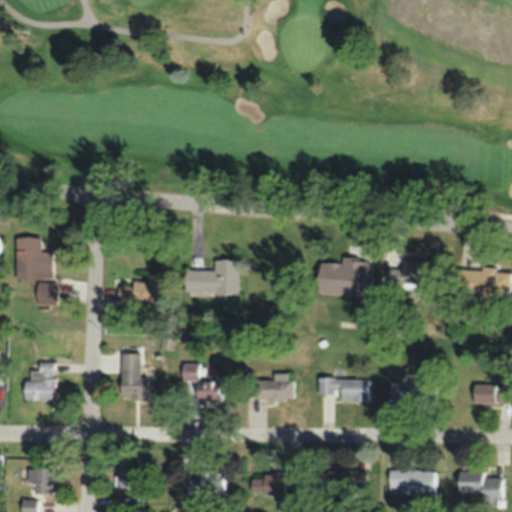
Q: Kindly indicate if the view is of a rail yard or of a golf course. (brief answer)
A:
golf course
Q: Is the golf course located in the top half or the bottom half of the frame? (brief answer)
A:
top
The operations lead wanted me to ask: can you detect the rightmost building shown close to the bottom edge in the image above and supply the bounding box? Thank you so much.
[460,467,509,510]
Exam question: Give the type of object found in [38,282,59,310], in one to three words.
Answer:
building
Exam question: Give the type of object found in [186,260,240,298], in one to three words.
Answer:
house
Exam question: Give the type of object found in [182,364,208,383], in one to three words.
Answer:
building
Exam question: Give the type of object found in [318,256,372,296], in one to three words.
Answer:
house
